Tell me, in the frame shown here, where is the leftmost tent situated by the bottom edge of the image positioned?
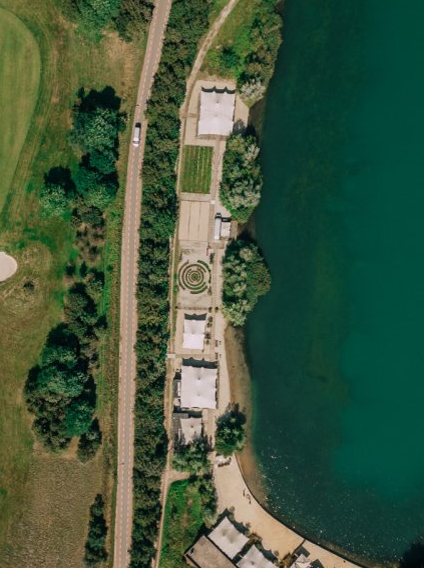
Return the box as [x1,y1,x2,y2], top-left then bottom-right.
[207,514,249,557]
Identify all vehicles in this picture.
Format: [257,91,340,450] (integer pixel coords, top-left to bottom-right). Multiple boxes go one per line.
[213,215,222,241]
[133,126,142,148]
